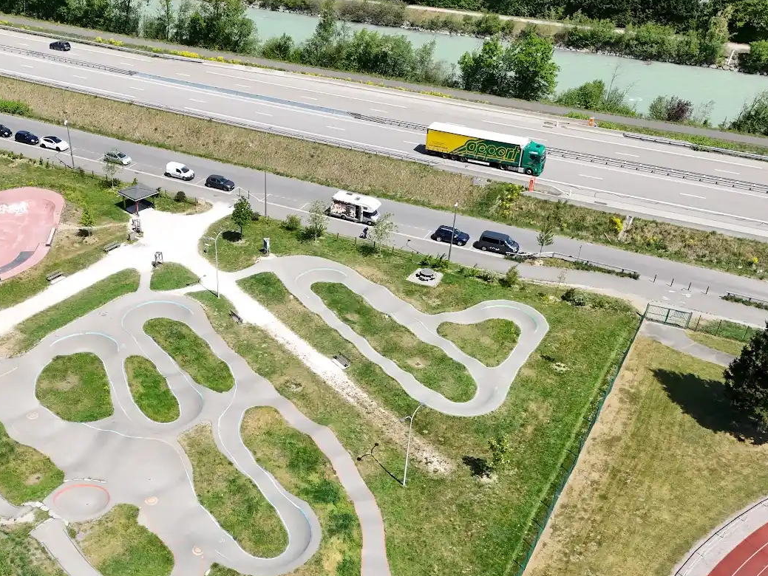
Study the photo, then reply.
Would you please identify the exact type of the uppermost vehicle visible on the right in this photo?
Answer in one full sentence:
I'd identify the uppermost vehicle visible on the right as a truck.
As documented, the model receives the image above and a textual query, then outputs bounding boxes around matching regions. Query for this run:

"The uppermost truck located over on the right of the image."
[427,120,549,175]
